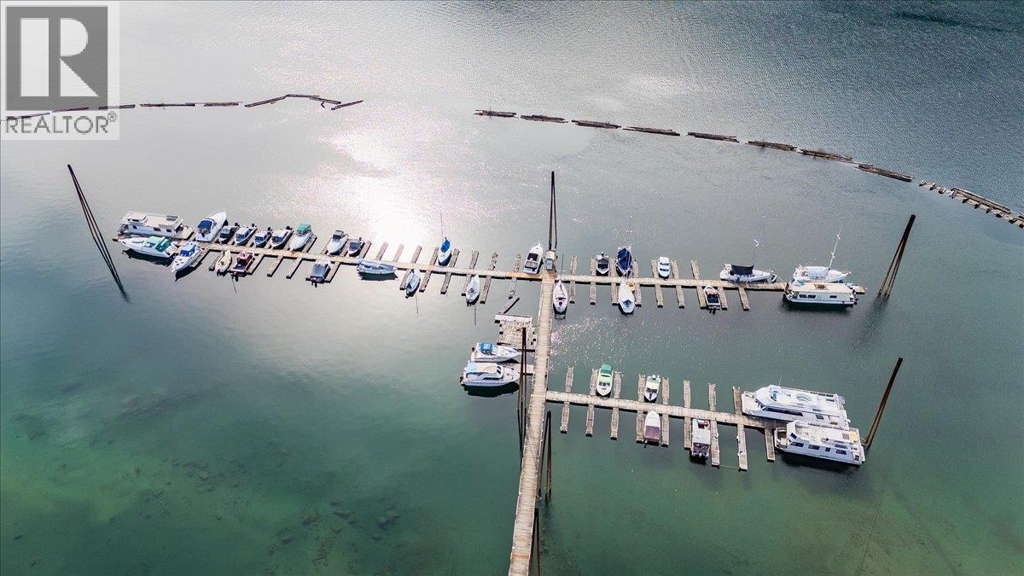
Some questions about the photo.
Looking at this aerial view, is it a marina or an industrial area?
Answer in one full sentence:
This looks like a marina.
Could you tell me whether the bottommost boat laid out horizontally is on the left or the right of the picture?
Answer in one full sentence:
The bottommost boat laid out horizontally sits on the right side.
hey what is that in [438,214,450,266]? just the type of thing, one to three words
boat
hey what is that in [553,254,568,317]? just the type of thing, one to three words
boat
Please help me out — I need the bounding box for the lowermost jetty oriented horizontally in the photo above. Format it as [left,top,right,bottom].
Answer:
[546,366,783,472]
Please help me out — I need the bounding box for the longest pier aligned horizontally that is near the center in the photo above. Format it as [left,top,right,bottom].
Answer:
[112,223,866,311]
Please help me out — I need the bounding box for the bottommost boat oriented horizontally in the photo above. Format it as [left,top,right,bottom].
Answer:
[775,412,867,467]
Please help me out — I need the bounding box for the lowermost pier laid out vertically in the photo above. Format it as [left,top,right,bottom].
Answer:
[497,282,554,576]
